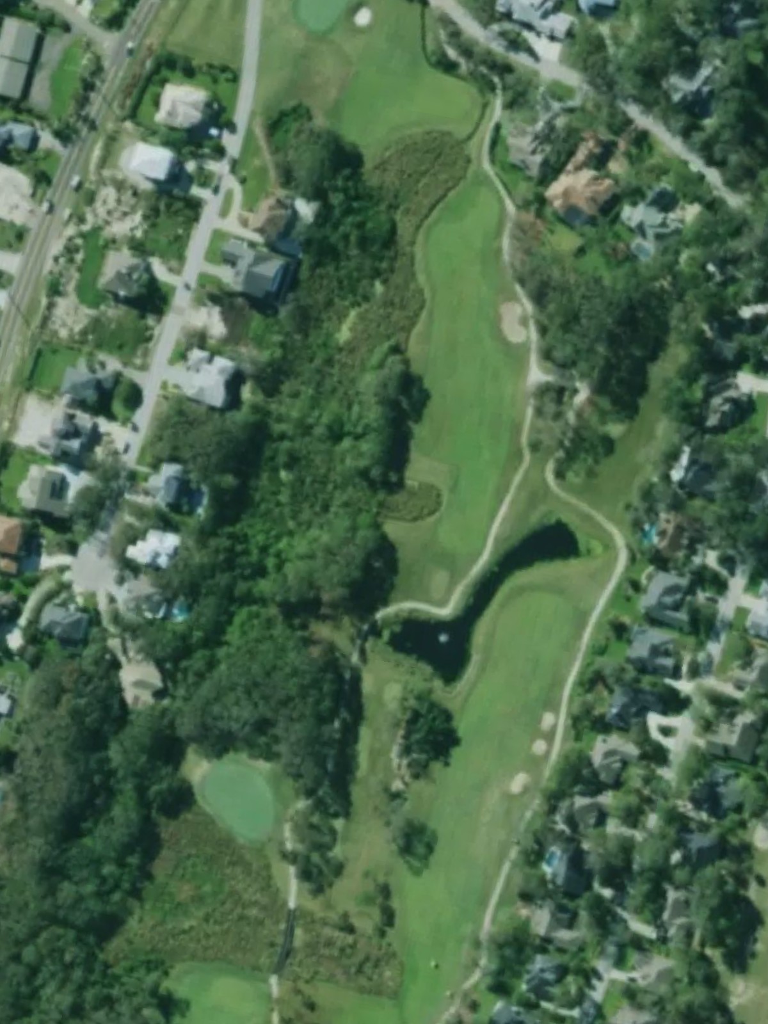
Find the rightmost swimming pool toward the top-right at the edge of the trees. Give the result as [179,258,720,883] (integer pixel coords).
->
[631,238,655,263]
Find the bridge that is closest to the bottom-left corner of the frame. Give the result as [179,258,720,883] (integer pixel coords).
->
[271,904,295,978]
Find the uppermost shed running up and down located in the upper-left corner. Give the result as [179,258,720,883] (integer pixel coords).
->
[0,19,35,97]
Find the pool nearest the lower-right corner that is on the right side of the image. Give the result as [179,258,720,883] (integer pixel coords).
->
[543,845,562,877]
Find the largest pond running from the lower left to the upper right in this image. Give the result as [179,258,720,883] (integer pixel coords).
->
[389,519,580,684]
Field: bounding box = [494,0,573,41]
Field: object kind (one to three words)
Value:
house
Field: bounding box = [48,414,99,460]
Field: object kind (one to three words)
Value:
house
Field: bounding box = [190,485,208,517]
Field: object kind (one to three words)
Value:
swimming pool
